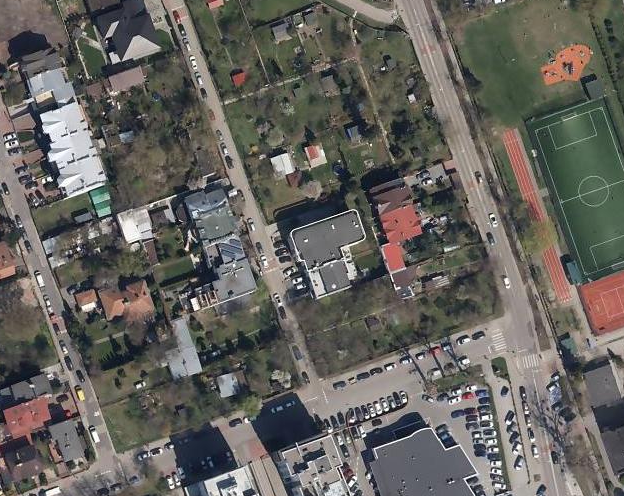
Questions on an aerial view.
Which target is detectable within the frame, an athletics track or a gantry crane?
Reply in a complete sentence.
It is an athletics track that can be seen here.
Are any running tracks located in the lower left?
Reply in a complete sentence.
No, no running track appears in the lower left.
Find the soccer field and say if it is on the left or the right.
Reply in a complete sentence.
The soccer field sits on the right side.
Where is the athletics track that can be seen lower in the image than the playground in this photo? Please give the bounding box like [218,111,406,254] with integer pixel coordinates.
[503,127,571,302]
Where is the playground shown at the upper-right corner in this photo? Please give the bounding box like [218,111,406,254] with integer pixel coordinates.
[541,44,591,84]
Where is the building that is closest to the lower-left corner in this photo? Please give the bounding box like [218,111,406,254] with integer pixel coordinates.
[0,437,45,481]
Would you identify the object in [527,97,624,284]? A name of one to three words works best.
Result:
soccer field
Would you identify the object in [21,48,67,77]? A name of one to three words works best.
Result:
house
